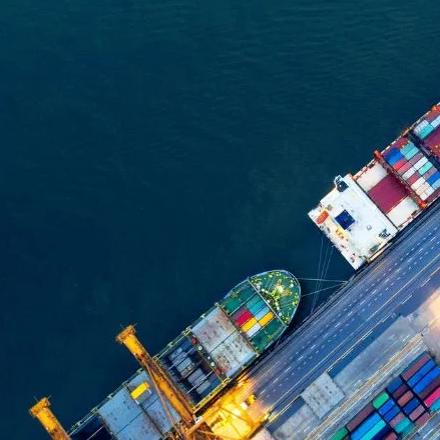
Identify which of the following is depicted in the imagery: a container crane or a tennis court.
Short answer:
container crane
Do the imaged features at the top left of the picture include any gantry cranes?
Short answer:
No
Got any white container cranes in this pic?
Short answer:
No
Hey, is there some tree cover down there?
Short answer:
No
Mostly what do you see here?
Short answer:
water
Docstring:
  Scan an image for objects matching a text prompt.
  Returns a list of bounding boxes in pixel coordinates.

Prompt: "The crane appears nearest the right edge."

[109,327,277,440]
